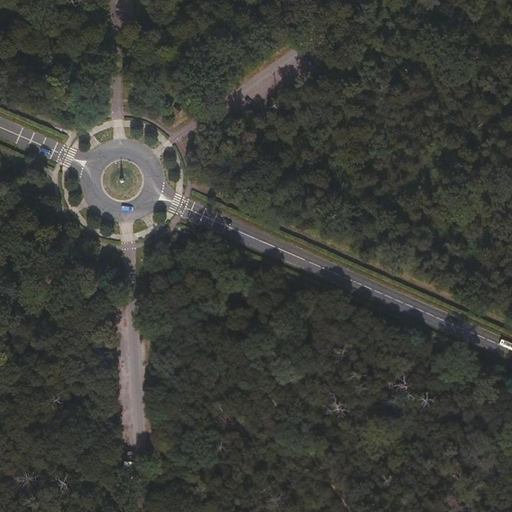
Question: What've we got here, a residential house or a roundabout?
roundabout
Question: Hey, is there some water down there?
No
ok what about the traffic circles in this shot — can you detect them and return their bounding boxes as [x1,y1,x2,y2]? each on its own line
[80,139,164,222]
